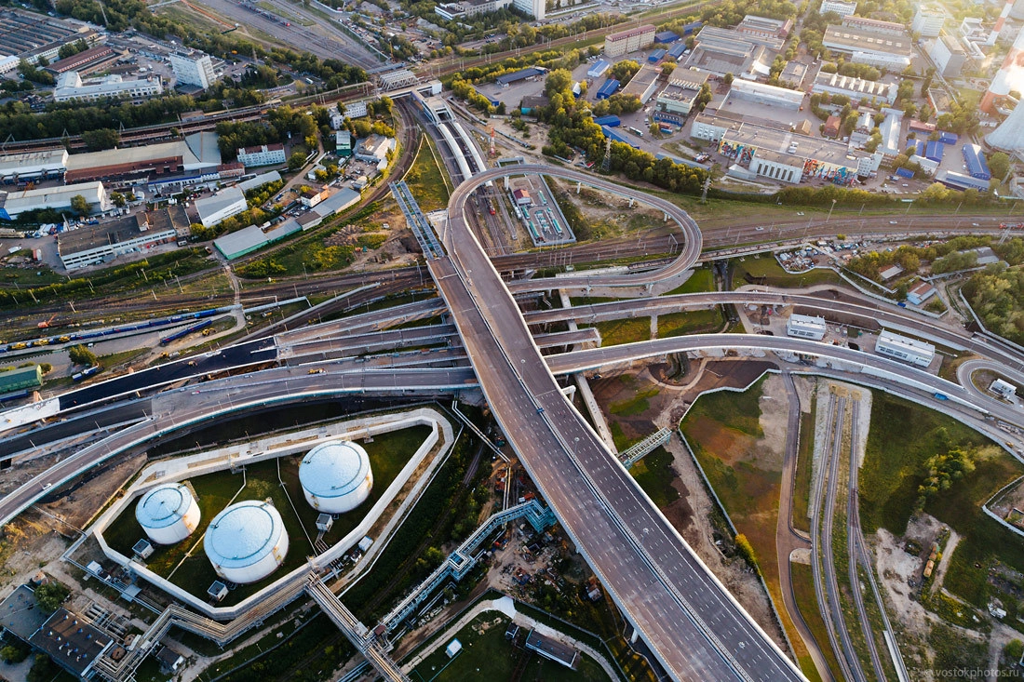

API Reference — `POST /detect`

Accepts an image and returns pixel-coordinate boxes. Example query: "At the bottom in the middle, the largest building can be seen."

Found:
[525,633,577,670]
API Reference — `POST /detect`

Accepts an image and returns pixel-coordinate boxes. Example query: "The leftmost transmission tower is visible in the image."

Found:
[601,133,616,172]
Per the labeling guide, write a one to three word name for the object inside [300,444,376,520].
storage tank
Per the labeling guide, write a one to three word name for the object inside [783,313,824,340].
building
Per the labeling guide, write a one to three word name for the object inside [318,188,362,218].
shed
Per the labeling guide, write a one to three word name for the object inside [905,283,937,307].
house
